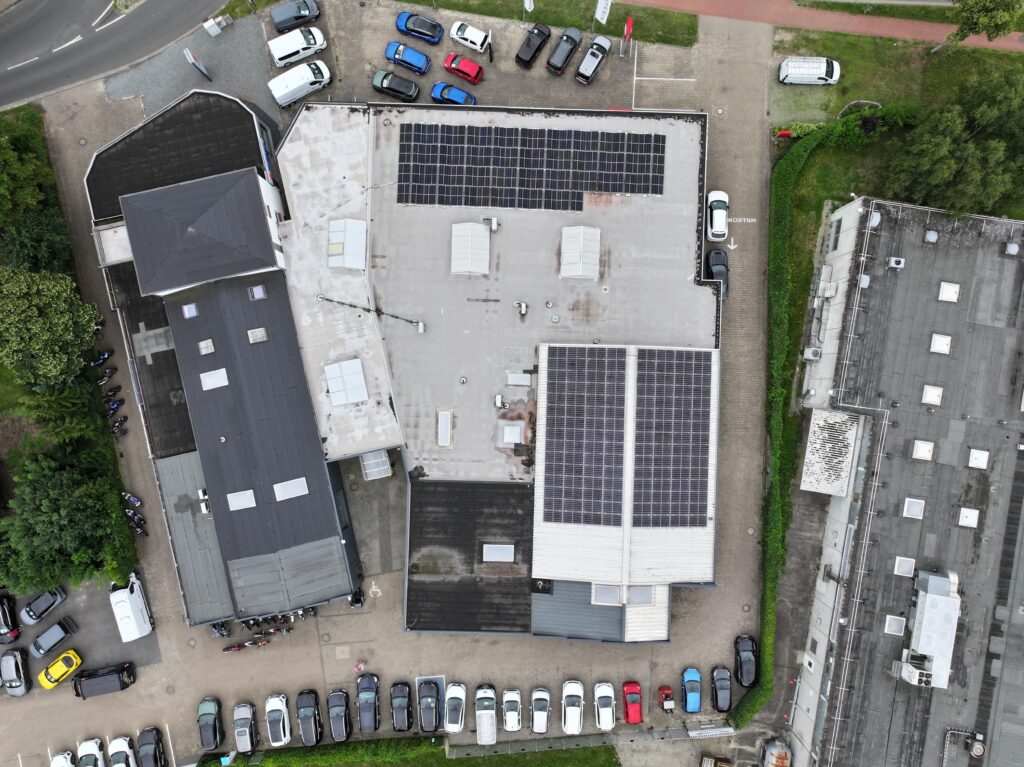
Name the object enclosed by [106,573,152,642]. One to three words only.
vehicle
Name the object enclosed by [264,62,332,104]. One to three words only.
vehicle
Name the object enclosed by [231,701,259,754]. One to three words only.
car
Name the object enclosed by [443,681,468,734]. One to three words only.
car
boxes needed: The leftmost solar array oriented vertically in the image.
[544,347,626,525]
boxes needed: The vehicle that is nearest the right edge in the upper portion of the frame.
[778,54,838,85]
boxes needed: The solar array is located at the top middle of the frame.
[397,121,665,213]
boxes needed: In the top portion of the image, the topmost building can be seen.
[85,90,288,226]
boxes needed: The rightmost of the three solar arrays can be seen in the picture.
[633,349,712,527]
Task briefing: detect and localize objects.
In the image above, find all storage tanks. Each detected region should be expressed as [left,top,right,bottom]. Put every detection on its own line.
[759,733,793,767]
